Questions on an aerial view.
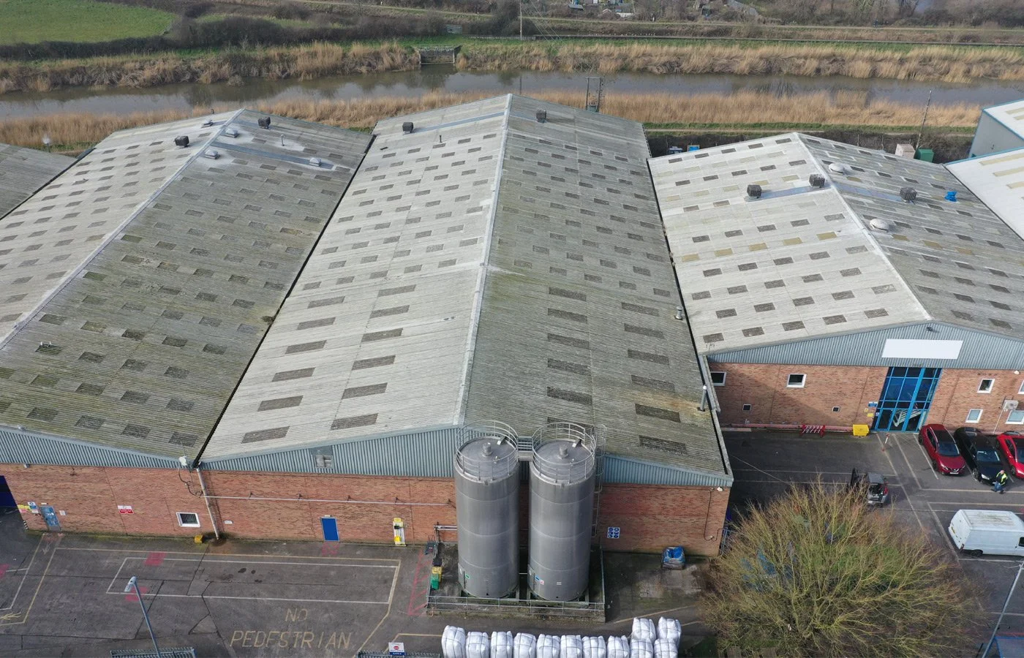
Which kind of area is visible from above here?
industrial area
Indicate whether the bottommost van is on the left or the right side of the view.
right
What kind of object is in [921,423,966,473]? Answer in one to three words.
car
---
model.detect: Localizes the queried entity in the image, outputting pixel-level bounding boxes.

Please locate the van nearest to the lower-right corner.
[947,512,1024,558]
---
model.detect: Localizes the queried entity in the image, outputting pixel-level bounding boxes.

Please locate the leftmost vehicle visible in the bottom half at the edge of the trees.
[840,468,896,507]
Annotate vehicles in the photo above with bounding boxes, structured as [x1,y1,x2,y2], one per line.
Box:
[947,512,1024,558]
[840,468,896,507]
[921,423,966,473]
[996,428,1024,475]
[957,429,1007,479]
